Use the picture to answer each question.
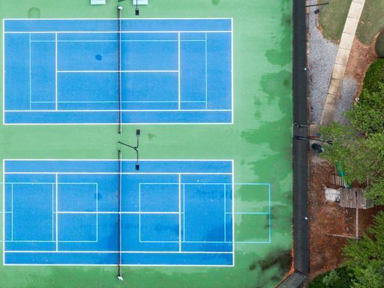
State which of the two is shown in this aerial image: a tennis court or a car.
tennis court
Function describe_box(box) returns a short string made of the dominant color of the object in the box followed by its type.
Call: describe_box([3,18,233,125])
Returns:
blue tennis court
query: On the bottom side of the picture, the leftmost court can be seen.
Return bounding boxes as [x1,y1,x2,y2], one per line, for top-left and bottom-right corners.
[0,159,271,267]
